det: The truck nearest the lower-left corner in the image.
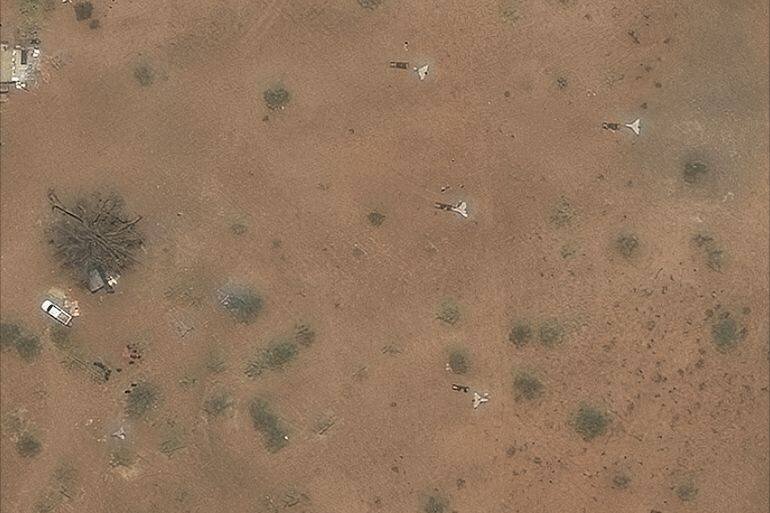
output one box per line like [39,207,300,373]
[39,302,72,329]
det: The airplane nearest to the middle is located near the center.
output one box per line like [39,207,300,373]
[451,202,468,217]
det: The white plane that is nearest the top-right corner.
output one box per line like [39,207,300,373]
[626,119,642,135]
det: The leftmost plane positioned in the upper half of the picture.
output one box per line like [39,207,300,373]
[415,65,431,80]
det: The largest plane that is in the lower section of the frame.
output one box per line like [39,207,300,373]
[472,393,489,408]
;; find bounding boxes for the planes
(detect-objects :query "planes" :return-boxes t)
[415,65,431,80]
[626,119,642,135]
[451,202,468,217]
[112,427,125,439]
[472,393,489,408]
